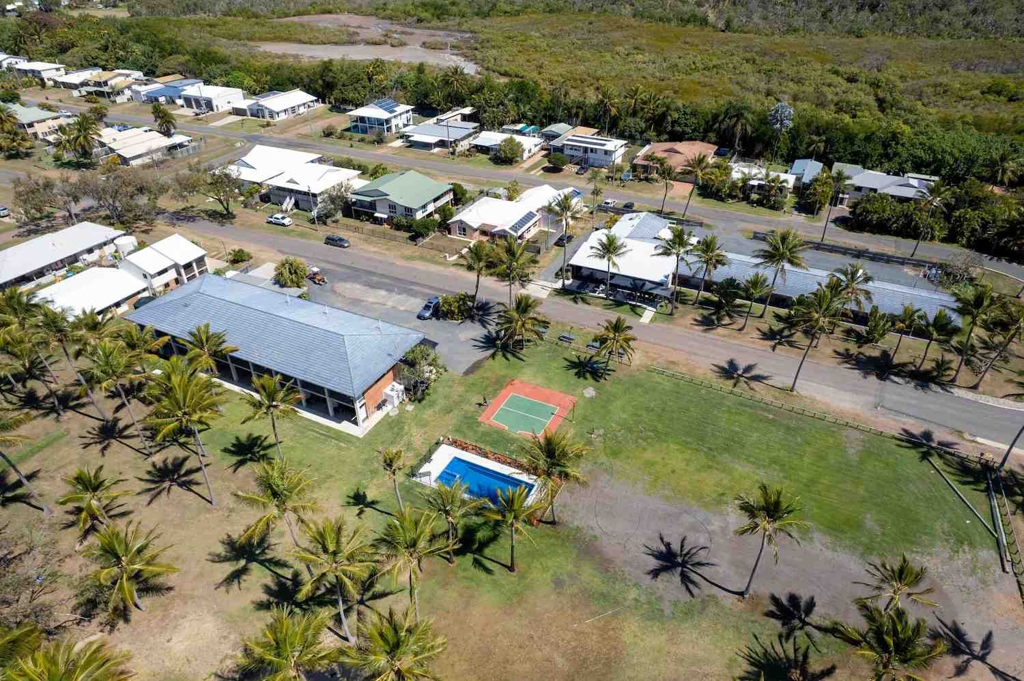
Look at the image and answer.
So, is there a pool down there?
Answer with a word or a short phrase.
Yes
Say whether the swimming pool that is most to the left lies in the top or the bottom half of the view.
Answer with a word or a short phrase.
bottom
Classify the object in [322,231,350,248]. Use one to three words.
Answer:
car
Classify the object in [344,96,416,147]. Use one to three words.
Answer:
house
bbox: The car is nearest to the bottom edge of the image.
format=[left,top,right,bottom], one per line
[415,295,440,320]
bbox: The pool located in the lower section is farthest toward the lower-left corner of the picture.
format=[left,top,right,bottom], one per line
[413,442,551,523]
